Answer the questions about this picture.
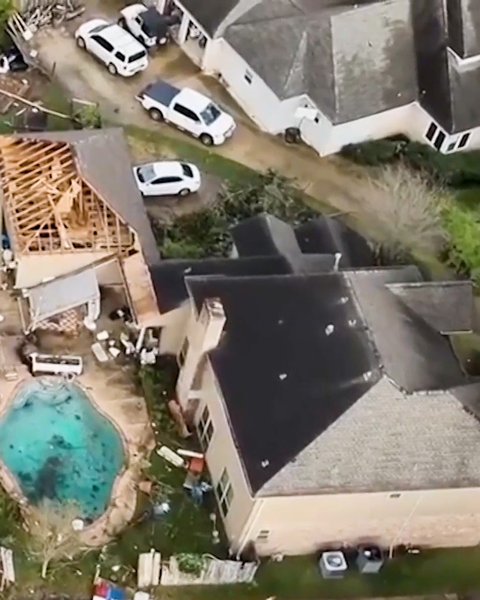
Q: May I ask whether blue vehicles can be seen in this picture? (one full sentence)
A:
No, there is no blue vehicle in the image.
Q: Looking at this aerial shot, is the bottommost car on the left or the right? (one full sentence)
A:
The bottommost car is on the left side of the image.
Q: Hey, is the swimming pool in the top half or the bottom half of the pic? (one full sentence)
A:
The bottom half of the photo is where the swimming pool is.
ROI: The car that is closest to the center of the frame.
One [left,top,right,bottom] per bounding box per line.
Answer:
[132,157,202,195]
